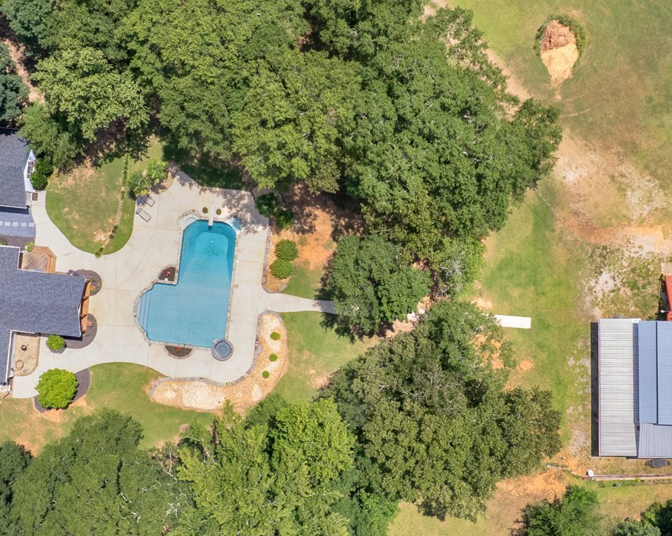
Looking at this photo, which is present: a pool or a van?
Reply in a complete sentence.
Visible in the photo is a pool.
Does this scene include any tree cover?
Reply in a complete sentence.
Yes, there's tree cover in this view.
